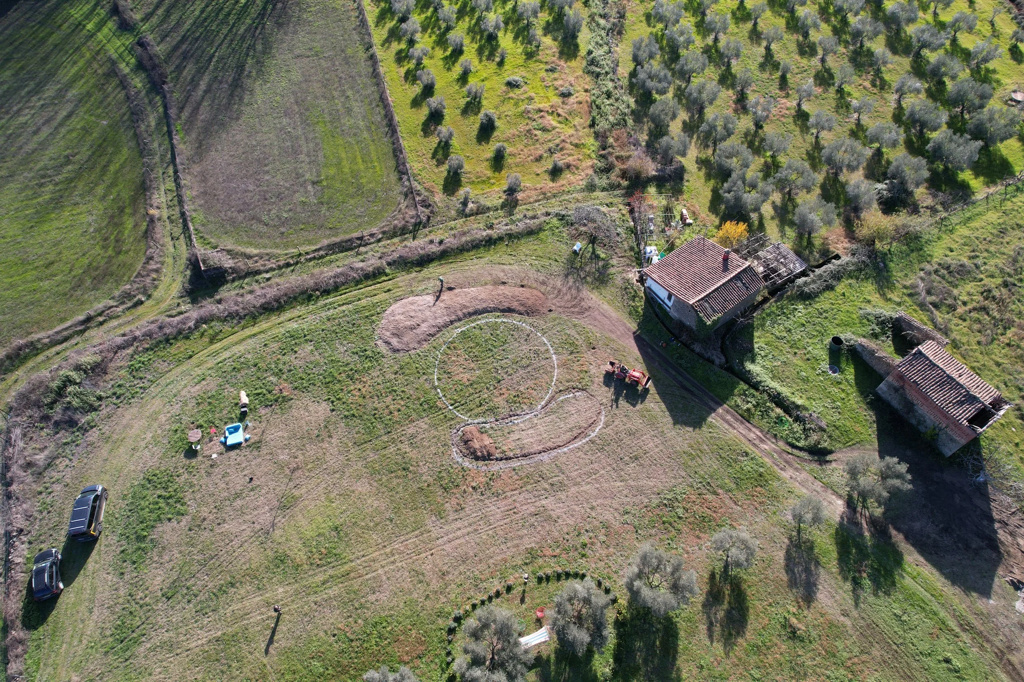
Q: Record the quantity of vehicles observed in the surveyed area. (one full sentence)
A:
Looking from above, you can make out 3 vehicles.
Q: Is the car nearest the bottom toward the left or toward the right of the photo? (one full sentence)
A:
The car nearest the bottom is on the left side of the image.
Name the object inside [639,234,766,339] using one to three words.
house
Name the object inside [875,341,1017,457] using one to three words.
barn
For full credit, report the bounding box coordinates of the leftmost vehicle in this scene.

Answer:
[31,546,64,605]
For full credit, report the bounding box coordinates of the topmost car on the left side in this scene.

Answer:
[70,484,109,543]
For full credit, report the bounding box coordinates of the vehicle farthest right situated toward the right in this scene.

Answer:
[604,361,650,390]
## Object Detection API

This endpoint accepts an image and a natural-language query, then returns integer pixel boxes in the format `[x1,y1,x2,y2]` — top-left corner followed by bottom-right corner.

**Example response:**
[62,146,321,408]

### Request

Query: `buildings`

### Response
[750,241,808,287]
[639,234,766,339]
[875,341,1017,457]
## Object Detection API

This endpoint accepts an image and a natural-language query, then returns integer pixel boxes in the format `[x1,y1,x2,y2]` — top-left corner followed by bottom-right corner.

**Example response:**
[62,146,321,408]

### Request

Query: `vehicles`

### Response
[70,484,109,543]
[604,361,650,390]
[31,546,64,605]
